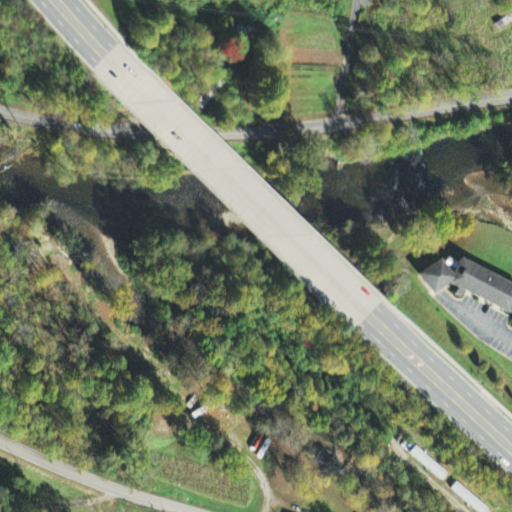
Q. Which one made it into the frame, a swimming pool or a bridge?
bridge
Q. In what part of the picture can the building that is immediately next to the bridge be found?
right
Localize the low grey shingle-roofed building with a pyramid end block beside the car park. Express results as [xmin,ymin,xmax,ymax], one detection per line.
[420,258,512,312]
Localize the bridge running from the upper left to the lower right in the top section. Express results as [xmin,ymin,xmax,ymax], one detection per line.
[87,38,388,337]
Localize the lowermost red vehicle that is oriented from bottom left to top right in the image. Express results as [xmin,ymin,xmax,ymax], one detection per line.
[250,434,264,452]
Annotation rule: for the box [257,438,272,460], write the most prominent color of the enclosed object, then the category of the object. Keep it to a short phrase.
white vehicle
